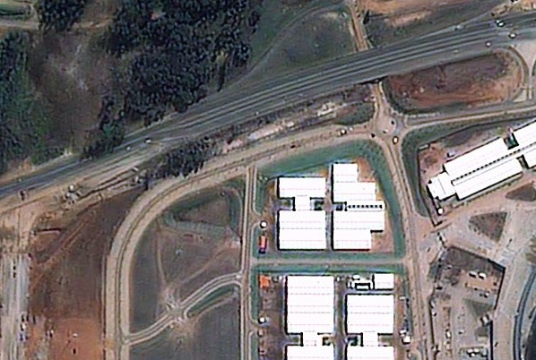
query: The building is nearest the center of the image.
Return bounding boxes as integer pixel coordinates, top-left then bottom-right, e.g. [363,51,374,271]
[279,177,326,250]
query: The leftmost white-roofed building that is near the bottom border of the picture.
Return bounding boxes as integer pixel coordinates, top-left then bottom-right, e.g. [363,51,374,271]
[287,276,334,360]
